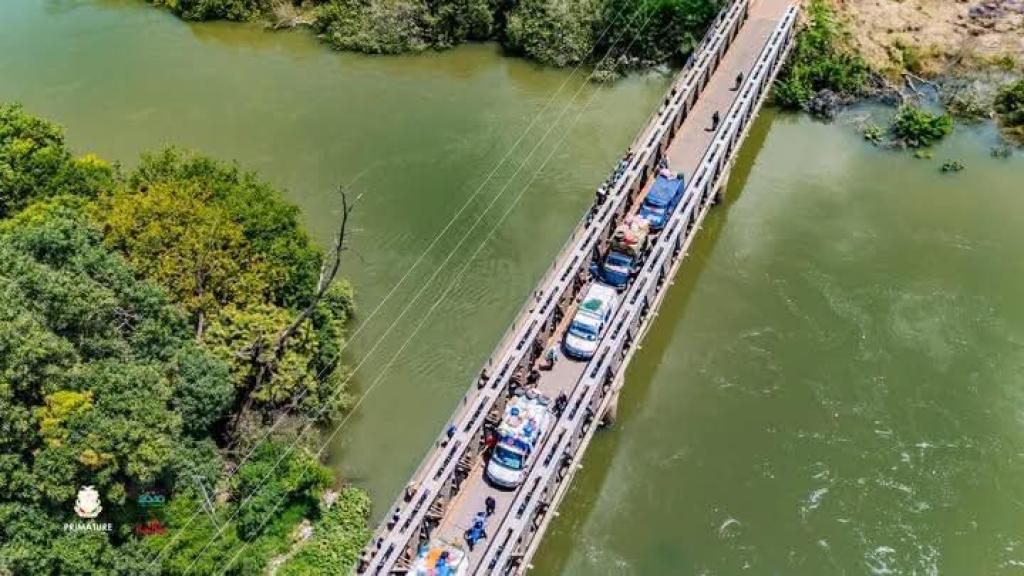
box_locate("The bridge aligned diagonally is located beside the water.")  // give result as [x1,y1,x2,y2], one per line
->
[344,0,811,576]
